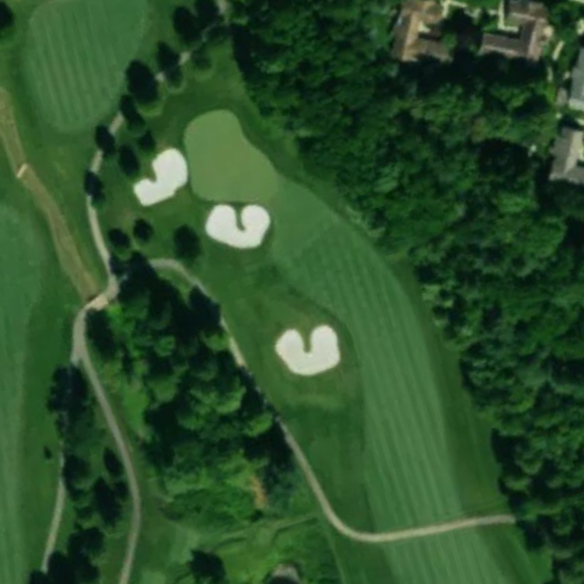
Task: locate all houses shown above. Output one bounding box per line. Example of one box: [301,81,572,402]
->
[482,1,550,60]
[394,1,452,65]
[553,127,584,185]
[570,47,584,109]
